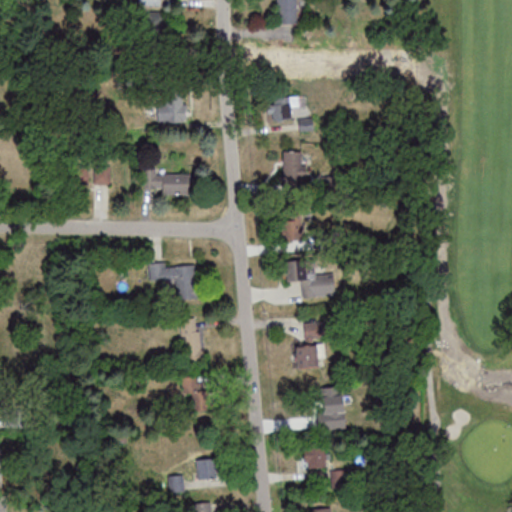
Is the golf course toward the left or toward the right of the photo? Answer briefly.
right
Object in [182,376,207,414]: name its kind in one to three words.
house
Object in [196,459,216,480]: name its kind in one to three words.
building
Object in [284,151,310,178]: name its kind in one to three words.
house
